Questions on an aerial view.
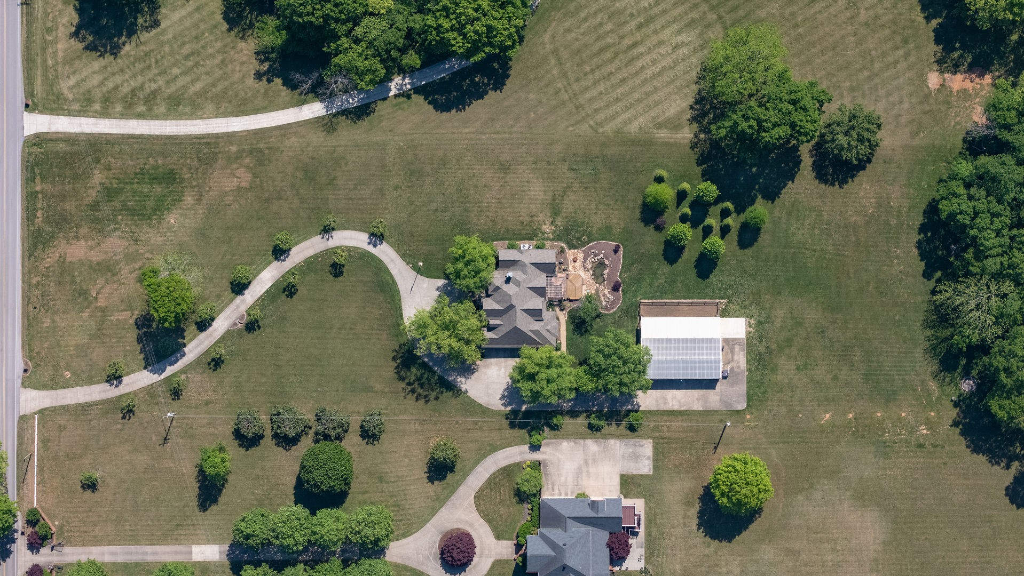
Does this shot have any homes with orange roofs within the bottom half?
No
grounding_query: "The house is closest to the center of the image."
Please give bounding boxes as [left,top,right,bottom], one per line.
[481,249,559,349]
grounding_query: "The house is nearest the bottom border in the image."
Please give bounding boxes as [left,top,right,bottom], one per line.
[526,498,623,576]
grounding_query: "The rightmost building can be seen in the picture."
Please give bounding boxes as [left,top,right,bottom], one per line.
[641,317,722,381]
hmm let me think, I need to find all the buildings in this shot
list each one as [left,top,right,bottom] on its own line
[526,498,623,576]
[481,249,559,349]
[641,317,722,381]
